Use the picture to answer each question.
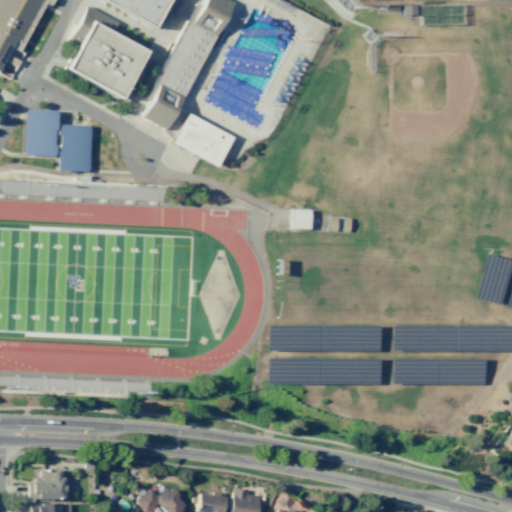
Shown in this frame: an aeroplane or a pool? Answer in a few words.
pool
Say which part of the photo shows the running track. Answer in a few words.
left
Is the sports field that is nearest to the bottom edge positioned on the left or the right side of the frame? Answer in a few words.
left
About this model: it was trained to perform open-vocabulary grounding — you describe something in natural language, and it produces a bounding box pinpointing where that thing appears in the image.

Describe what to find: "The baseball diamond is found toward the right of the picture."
[384,47,479,142]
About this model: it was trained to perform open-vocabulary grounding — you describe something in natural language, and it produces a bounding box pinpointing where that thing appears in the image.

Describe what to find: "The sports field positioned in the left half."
[0,221,244,358]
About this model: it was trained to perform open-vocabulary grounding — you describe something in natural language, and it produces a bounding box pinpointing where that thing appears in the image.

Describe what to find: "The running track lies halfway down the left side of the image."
[0,201,264,378]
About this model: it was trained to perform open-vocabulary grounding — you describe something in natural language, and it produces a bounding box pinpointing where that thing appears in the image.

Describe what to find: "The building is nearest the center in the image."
[288,208,314,230]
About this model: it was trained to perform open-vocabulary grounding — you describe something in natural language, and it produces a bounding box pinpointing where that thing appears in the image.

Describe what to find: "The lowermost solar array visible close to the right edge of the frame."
[394,360,488,385]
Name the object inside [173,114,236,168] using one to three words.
building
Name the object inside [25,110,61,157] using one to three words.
building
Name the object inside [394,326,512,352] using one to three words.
solar array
